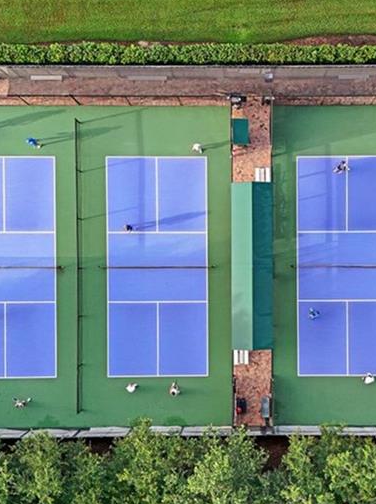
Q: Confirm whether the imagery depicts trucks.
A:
No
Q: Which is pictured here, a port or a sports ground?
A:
sports ground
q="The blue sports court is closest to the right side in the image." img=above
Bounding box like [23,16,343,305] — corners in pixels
[297,155,376,376]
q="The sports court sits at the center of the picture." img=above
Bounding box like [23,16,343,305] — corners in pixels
[106,156,208,377]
